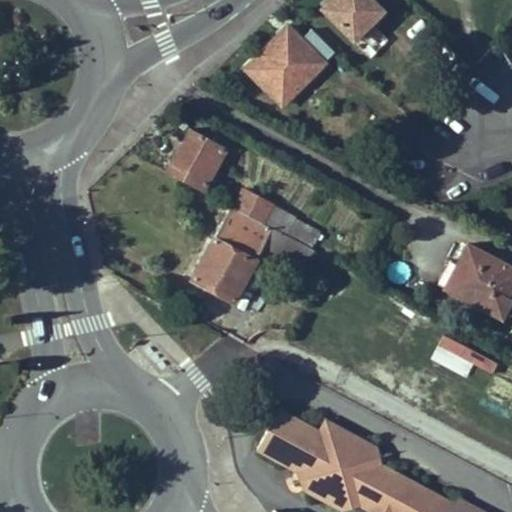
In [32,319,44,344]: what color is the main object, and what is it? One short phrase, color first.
white vehicle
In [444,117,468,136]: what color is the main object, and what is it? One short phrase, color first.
white vehicle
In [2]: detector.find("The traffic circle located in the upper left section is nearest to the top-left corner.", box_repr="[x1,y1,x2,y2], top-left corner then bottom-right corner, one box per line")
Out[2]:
[0,0,130,186]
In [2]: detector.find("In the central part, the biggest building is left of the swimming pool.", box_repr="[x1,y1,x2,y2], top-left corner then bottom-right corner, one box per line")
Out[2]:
[184,186,320,304]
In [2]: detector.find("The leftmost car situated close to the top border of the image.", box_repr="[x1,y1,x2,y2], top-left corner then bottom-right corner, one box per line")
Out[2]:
[210,4,233,19]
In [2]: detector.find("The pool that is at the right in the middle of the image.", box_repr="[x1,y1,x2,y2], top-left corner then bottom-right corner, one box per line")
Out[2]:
[386,260,414,284]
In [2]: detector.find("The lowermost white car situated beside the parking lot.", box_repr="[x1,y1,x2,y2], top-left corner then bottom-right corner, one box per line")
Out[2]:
[446,180,468,199]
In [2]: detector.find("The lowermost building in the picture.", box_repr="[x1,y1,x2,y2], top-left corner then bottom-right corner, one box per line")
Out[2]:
[256,411,476,512]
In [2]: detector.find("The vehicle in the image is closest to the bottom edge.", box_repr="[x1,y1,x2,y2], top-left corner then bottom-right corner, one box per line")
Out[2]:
[40,380,54,402]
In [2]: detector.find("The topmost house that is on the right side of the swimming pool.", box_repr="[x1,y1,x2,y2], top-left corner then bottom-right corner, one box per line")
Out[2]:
[437,242,512,324]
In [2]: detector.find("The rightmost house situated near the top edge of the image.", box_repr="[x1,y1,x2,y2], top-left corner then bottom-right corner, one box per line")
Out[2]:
[320,0,388,58]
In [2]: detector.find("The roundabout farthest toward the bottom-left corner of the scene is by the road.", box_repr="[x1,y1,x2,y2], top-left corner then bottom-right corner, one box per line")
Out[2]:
[0,356,209,512]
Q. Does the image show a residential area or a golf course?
residential area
